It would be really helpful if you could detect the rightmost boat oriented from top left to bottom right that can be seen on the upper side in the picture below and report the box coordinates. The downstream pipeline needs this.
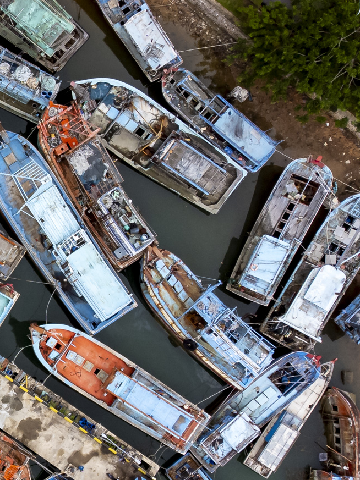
[161,66,284,173]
